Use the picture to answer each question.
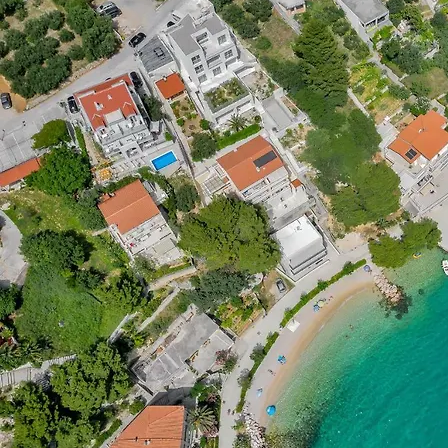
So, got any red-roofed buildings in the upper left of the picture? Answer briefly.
Yes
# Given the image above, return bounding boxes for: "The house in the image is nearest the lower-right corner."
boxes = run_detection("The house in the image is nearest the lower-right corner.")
[277,215,332,278]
